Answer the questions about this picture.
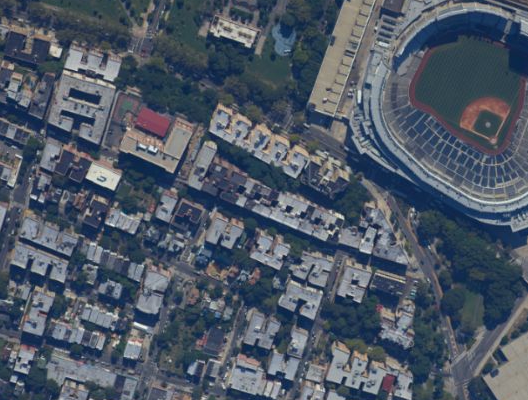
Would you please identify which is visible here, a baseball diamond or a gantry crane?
baseball diamond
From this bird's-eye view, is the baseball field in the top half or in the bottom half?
top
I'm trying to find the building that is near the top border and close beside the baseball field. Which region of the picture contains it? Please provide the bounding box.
[309,0,376,117]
